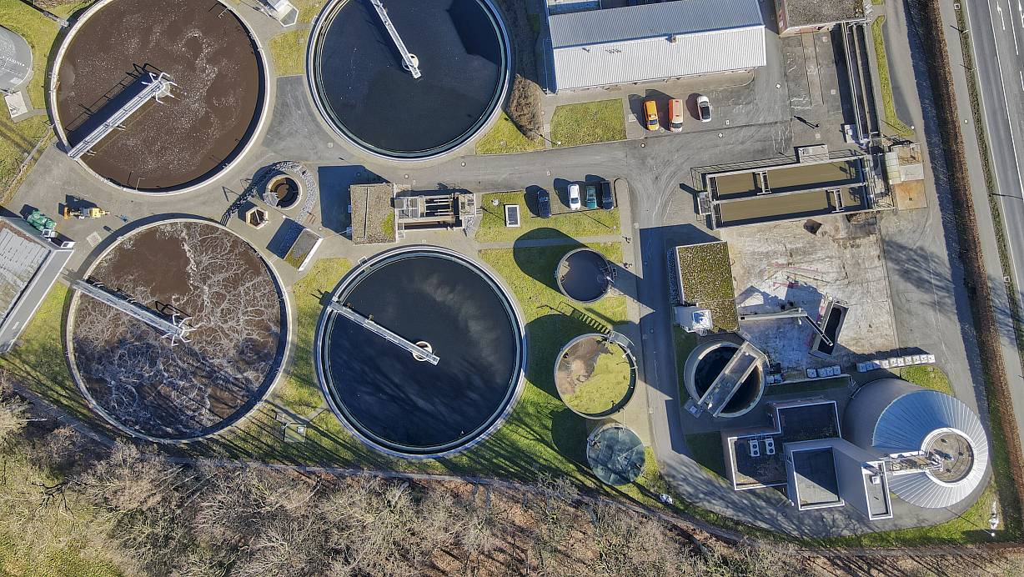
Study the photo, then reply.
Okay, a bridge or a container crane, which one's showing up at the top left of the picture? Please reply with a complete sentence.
You can see a bridge at the top left of the picture.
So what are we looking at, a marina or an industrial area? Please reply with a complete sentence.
This looks like an industrial area.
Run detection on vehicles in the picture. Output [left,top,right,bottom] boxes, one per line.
[585,184,599,209]
[644,97,661,130]
[668,96,684,132]
[568,183,582,210]
[600,179,616,210]
[536,188,551,217]
[64,206,109,219]
[696,93,713,122]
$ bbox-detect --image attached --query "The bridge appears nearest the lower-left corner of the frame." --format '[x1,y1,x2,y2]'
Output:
[70,281,188,341]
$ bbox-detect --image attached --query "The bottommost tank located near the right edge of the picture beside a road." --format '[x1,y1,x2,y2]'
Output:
[842,380,995,508]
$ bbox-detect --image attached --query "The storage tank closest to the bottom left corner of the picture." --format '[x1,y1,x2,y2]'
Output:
[55,218,292,442]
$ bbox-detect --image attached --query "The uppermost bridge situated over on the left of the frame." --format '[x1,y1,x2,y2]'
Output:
[370,0,421,81]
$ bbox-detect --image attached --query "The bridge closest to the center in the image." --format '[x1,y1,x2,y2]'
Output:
[321,297,440,365]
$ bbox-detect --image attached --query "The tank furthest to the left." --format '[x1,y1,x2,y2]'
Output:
[0,22,38,101]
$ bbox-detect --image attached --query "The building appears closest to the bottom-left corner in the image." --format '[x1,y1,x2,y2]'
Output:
[0,224,83,363]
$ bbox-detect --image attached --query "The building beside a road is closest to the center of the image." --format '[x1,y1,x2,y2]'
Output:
[342,183,402,245]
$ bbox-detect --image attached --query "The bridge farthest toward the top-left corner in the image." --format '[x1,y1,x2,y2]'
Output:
[65,77,168,160]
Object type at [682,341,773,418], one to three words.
storage tank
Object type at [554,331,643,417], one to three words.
storage tank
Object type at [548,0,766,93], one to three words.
building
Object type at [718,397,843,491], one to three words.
building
